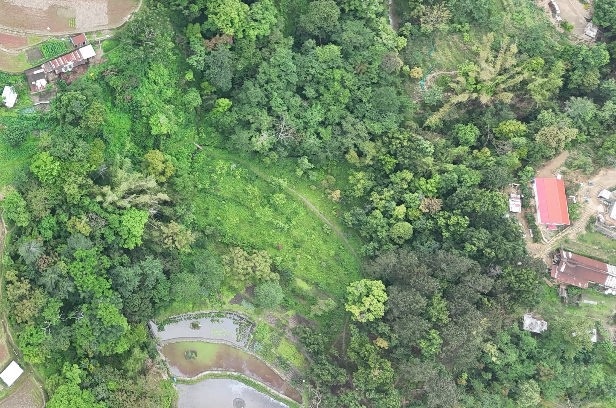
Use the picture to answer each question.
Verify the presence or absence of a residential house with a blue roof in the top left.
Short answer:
No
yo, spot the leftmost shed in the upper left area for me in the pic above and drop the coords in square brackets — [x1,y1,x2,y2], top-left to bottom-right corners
[1,85,17,113]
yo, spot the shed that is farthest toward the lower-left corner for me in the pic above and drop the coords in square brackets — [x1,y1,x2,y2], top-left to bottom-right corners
[0,361,24,386]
